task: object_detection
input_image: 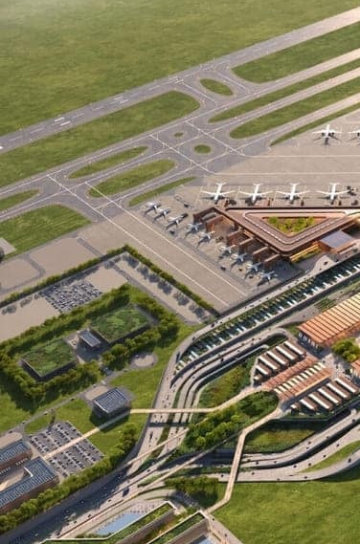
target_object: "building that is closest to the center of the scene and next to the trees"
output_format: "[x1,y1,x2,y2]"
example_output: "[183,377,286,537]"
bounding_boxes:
[90,305,154,347]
